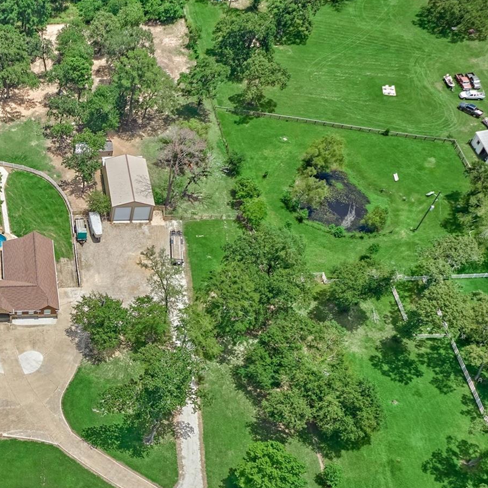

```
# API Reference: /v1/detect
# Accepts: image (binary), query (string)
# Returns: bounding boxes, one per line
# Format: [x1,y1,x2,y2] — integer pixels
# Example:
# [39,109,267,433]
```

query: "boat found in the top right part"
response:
[444,69,458,91]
